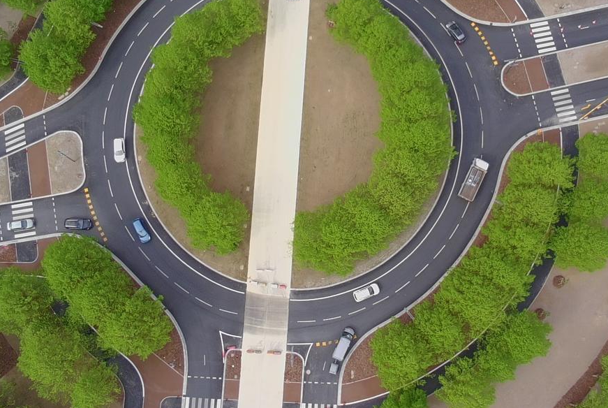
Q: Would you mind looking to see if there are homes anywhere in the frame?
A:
No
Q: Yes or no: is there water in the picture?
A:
No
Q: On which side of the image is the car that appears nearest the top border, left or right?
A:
right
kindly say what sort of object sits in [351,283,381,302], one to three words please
car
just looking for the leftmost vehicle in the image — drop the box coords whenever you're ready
[4,217,34,231]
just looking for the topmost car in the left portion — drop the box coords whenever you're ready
[111,136,124,161]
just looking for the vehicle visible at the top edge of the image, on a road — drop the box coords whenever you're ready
[445,20,467,43]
